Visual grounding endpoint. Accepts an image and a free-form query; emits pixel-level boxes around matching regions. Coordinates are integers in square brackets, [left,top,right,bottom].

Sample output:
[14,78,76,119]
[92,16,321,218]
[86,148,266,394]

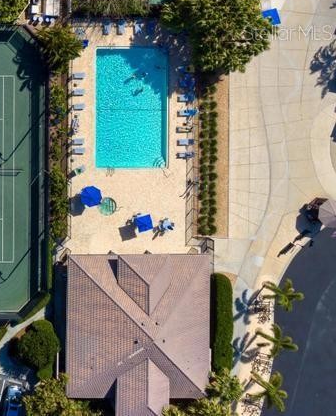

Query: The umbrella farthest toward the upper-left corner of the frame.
[81,186,102,206]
